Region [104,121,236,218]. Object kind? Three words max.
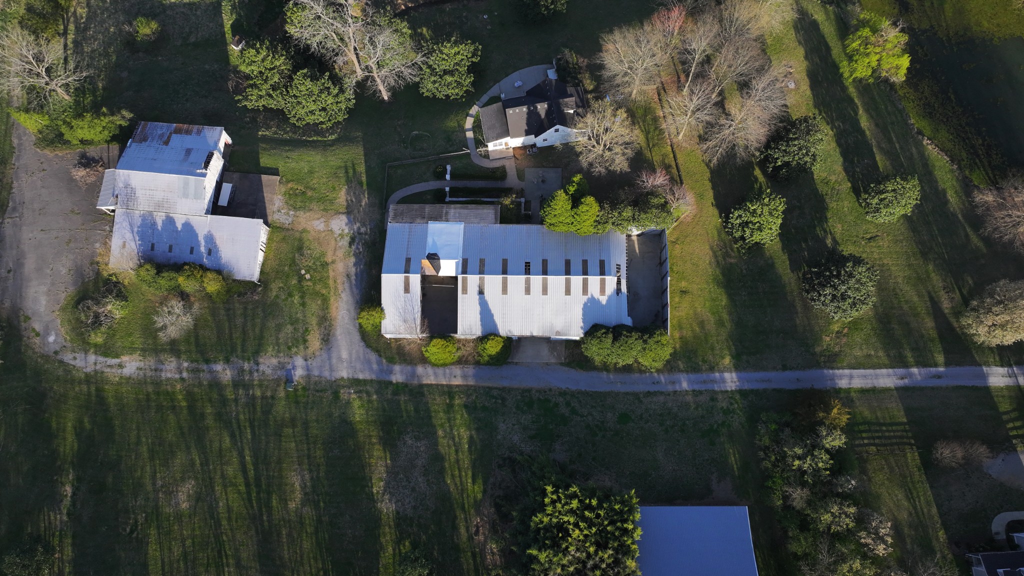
barn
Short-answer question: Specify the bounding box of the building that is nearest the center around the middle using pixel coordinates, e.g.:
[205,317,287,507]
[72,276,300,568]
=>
[381,204,635,343]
